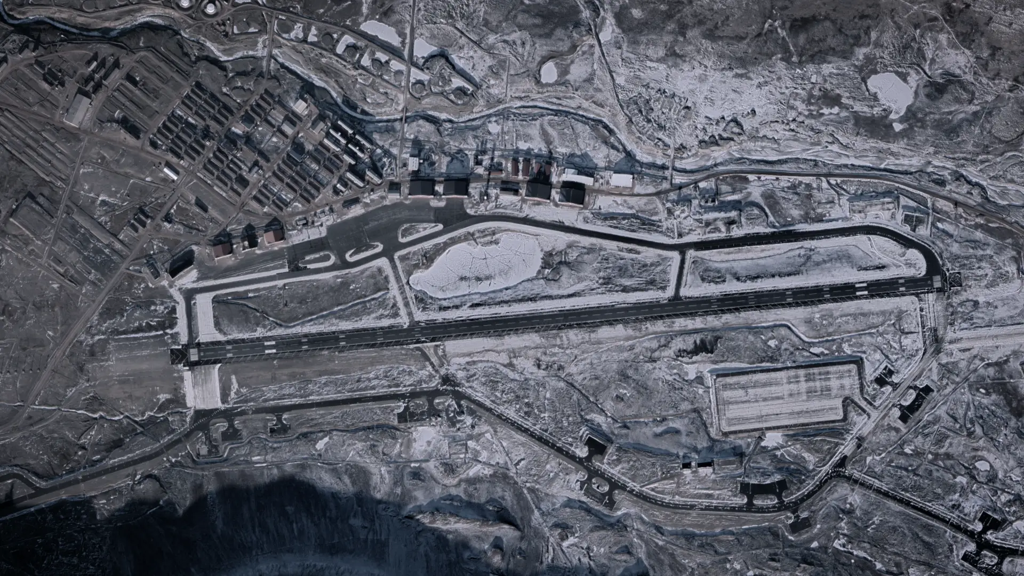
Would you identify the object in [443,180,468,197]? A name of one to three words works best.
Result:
hangar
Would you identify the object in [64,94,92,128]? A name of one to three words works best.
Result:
building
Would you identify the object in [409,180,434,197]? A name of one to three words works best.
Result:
hangar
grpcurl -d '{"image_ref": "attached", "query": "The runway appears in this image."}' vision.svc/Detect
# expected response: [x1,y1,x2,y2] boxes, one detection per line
[184,276,942,361]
